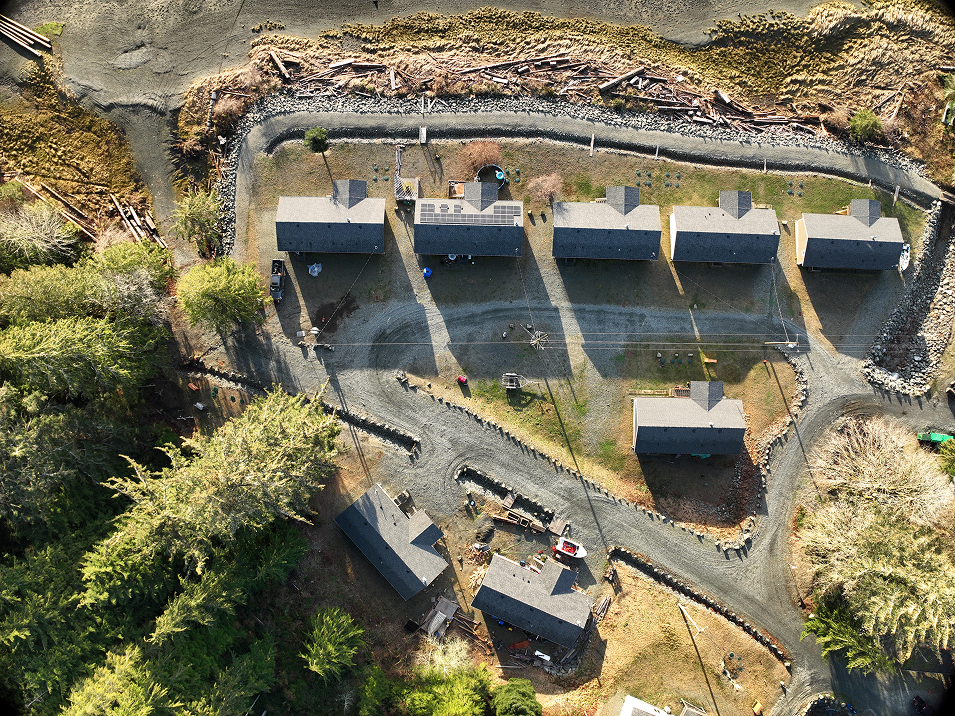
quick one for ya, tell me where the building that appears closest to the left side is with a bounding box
[275,179,386,263]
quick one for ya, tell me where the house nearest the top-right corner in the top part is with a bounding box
[795,200,907,279]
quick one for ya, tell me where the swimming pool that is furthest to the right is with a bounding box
[473,157,504,184]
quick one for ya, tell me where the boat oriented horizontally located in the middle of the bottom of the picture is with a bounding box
[551,537,588,557]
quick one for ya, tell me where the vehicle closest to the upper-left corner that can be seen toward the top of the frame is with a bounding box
[269,257,287,302]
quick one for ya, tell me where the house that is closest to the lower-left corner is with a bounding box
[335,483,449,601]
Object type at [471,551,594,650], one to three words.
house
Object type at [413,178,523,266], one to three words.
house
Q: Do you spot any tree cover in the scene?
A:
Yes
